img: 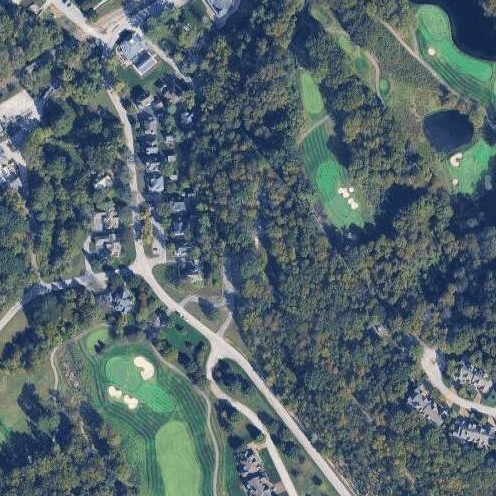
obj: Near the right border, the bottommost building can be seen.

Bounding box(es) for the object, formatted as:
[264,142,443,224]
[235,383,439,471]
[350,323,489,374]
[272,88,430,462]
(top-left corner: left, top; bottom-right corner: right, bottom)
[453,420,493,447]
